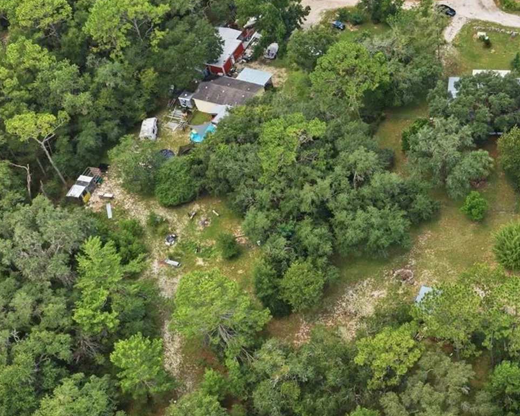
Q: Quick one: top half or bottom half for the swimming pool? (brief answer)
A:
top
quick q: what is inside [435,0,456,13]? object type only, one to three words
vehicle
